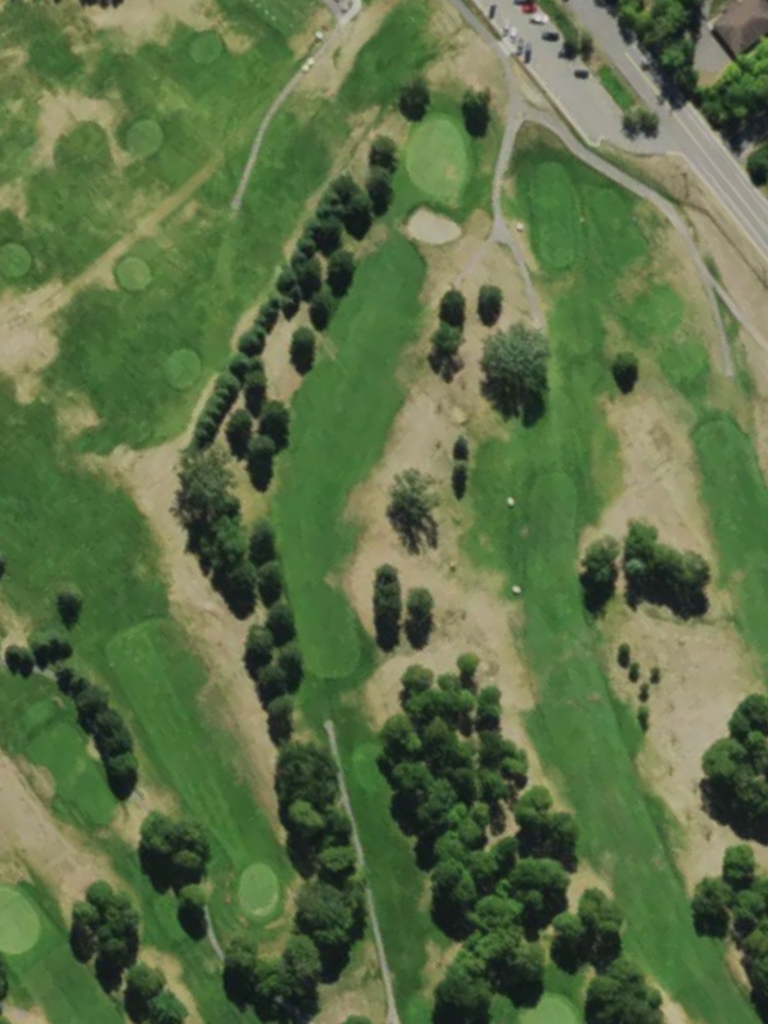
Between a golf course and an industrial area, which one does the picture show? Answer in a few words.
golf course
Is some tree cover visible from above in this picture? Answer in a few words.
Yes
